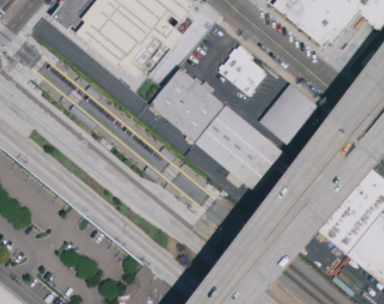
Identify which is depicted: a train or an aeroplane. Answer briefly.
train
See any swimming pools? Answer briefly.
No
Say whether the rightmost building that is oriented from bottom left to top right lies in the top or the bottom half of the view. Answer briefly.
bottom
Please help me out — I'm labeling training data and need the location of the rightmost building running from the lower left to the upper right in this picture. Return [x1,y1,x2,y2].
[318,170,384,252]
